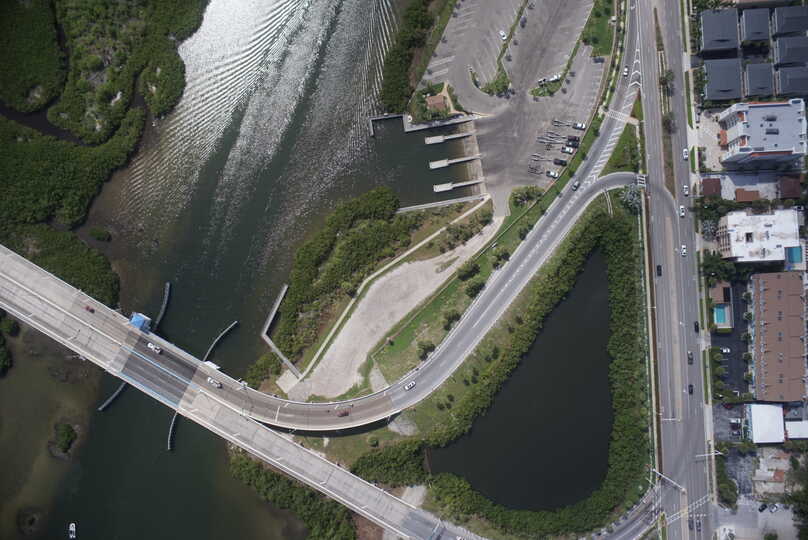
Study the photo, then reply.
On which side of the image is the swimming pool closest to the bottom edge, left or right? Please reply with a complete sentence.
The swimming pool closest to the bottom edge is on the right side of the image.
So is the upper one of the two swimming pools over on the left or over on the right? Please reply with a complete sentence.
It is on the right.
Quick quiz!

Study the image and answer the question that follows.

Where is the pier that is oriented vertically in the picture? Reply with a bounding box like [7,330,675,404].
[262,285,301,379]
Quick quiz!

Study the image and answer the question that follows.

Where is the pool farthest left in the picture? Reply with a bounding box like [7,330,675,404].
[712,302,734,328]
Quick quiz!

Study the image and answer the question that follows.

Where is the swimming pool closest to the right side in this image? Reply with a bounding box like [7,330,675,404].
[784,244,806,270]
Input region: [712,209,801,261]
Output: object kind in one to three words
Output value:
building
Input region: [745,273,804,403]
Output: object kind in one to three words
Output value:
building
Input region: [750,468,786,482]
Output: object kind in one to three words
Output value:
house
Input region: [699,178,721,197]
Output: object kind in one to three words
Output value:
house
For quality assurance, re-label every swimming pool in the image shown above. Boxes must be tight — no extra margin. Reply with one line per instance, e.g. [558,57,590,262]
[712,302,734,328]
[784,244,806,270]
